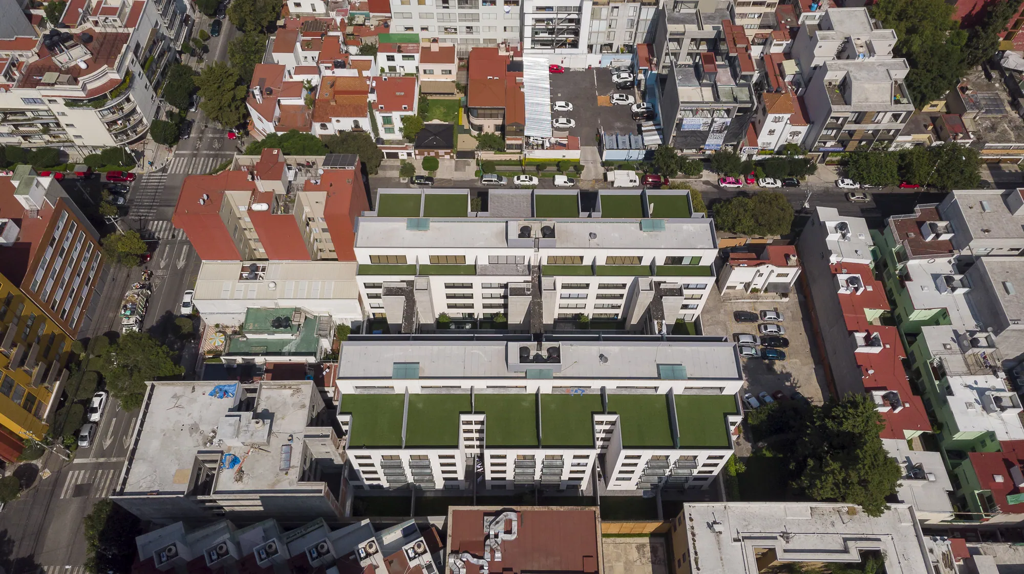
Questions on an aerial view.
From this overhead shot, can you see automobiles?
Yes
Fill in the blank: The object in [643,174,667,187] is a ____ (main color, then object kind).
red vehicle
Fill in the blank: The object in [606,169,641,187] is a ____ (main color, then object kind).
white vehicle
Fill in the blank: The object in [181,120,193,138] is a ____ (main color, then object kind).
black vehicle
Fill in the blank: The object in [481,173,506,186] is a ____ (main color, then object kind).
gray vehicle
